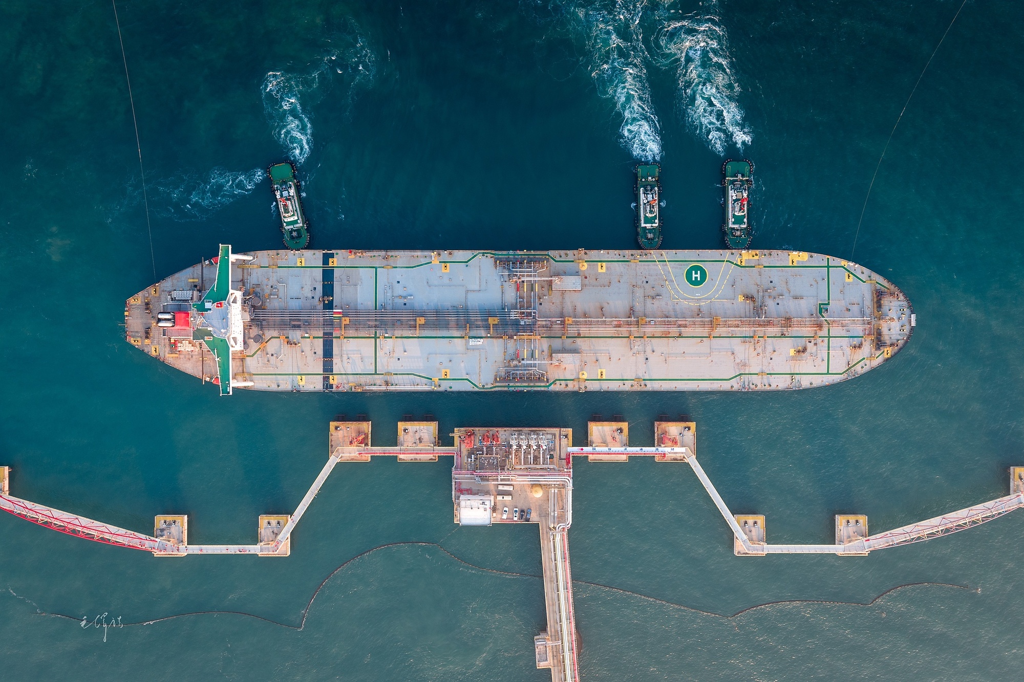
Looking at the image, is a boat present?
Yes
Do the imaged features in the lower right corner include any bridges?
Yes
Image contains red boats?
No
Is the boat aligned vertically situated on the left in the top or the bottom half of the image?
top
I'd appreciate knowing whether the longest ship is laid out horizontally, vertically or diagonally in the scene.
horizontally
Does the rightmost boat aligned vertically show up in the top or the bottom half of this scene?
top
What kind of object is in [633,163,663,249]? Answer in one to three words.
boat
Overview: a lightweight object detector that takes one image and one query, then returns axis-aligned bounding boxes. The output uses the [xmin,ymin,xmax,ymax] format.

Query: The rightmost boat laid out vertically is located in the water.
[721,160,754,250]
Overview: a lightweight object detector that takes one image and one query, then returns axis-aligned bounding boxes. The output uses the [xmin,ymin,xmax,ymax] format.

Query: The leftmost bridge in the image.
[0,492,159,552]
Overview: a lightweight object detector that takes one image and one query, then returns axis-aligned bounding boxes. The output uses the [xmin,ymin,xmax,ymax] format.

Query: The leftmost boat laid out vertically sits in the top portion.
[267,161,308,250]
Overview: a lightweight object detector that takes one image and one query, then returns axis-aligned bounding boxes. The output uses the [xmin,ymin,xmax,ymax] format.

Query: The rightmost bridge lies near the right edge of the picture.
[865,492,1024,552]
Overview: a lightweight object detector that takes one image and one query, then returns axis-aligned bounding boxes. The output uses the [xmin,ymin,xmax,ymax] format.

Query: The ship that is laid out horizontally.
[118,244,917,396]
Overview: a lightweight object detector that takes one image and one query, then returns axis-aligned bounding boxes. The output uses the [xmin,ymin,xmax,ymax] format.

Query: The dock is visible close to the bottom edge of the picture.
[540,523,582,682]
